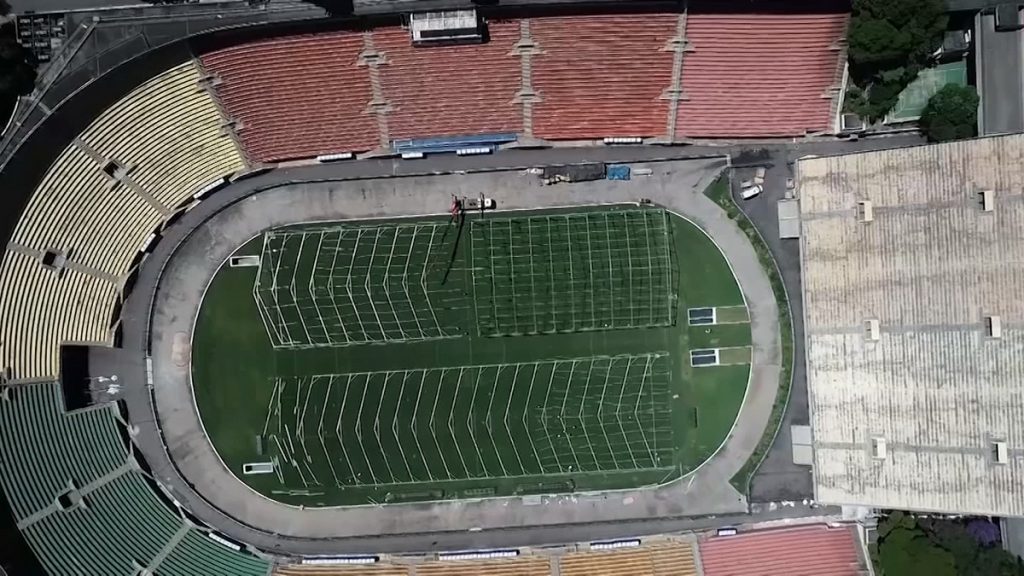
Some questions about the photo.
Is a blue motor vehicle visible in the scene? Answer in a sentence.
No, no blue motor vehicle is visible in the view.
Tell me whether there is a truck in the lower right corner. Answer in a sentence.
No, no truck can be made out in the lower right corner.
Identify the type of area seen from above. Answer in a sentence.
The area seen from above is a sports ground.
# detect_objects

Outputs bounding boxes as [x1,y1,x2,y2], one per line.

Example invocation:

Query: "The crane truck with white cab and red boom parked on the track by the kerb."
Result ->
[423,190,495,275]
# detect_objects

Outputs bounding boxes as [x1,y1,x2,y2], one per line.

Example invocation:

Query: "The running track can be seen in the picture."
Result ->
[148,155,781,538]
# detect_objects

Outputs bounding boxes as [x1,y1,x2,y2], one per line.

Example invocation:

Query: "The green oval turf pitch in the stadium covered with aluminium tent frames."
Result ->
[191,204,752,508]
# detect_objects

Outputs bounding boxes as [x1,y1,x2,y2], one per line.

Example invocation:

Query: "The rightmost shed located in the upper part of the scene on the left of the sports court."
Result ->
[836,114,867,133]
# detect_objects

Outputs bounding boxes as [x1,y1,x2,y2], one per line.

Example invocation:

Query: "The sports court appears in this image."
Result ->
[884,59,967,123]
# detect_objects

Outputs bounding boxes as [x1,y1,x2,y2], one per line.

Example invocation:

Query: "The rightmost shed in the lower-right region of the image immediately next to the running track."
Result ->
[787,423,813,464]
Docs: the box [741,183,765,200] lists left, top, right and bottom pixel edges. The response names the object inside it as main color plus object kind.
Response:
white vehicle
